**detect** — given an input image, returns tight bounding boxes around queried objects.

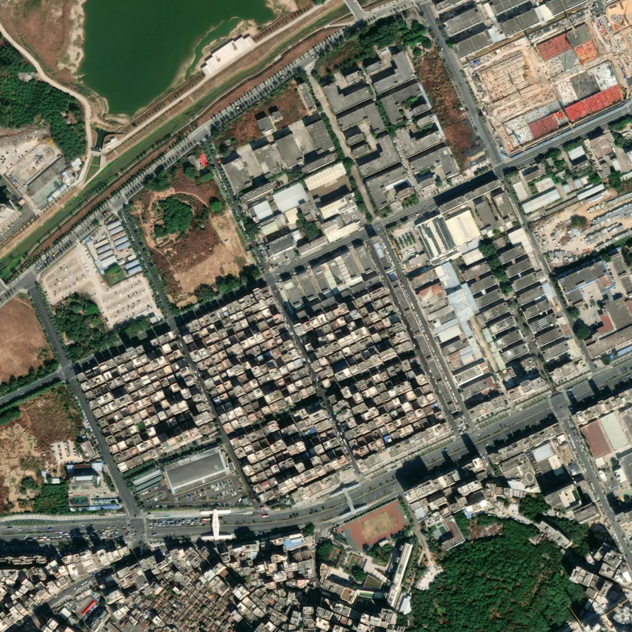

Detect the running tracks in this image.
[337,501,410,550]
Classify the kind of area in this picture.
residential area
